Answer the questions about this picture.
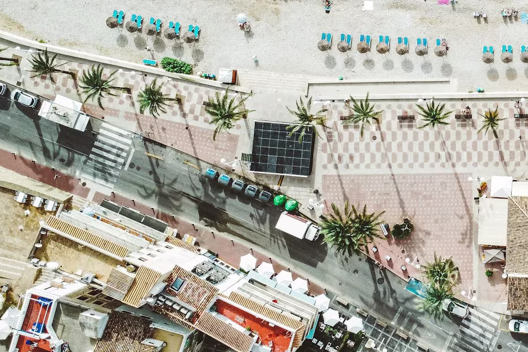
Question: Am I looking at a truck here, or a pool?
truck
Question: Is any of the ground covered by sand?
Yes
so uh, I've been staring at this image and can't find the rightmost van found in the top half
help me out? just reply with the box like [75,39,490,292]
[37,91,91,128]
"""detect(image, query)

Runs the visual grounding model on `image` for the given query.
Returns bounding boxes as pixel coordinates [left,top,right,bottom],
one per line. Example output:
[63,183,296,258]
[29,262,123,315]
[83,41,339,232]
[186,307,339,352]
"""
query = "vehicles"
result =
[277,207,322,239]
[37,91,91,128]
[509,318,528,333]
[0,81,10,95]
[444,298,470,318]
[13,90,40,108]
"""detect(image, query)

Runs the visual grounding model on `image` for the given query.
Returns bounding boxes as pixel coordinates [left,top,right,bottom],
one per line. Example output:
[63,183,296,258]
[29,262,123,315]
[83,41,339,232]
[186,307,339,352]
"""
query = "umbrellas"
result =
[239,254,257,271]
[164,27,176,40]
[276,268,291,285]
[318,39,331,52]
[415,43,428,56]
[184,31,196,43]
[107,16,119,29]
[357,40,370,53]
[126,20,138,33]
[322,309,340,326]
[501,51,513,63]
[291,276,307,293]
[0,320,12,339]
[337,40,350,53]
[376,41,389,54]
[396,42,409,55]
[345,316,363,334]
[145,23,157,36]
[314,294,329,312]
[258,262,274,278]
[520,51,528,63]
[434,44,447,57]
[1,308,21,327]
[364,335,375,348]
[482,51,494,63]
[237,13,247,23]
